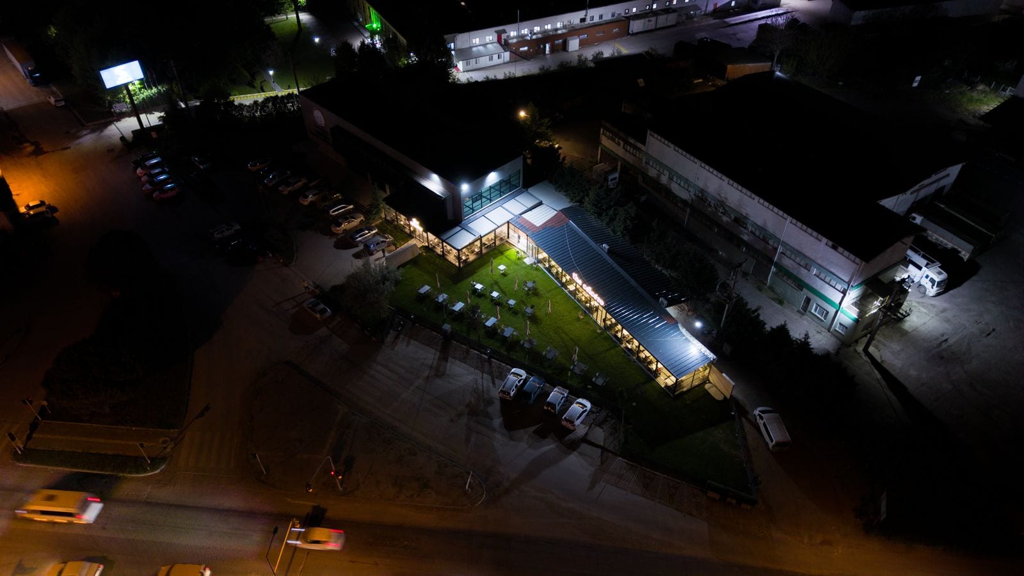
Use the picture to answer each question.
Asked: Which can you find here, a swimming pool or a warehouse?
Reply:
warehouse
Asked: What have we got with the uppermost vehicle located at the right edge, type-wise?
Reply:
truck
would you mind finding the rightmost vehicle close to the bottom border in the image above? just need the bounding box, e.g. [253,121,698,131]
[288,526,342,554]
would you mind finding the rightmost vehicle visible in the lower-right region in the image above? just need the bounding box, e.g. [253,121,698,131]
[754,408,792,451]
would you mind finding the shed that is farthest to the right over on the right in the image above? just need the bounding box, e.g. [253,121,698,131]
[981,90,1024,141]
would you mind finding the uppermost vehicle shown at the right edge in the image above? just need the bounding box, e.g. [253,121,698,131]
[914,212,991,265]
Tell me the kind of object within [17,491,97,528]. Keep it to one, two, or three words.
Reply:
vehicle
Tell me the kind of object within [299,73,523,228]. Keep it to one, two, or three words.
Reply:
building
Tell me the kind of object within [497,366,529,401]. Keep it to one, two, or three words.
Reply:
car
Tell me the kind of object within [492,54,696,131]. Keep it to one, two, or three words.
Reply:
shed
